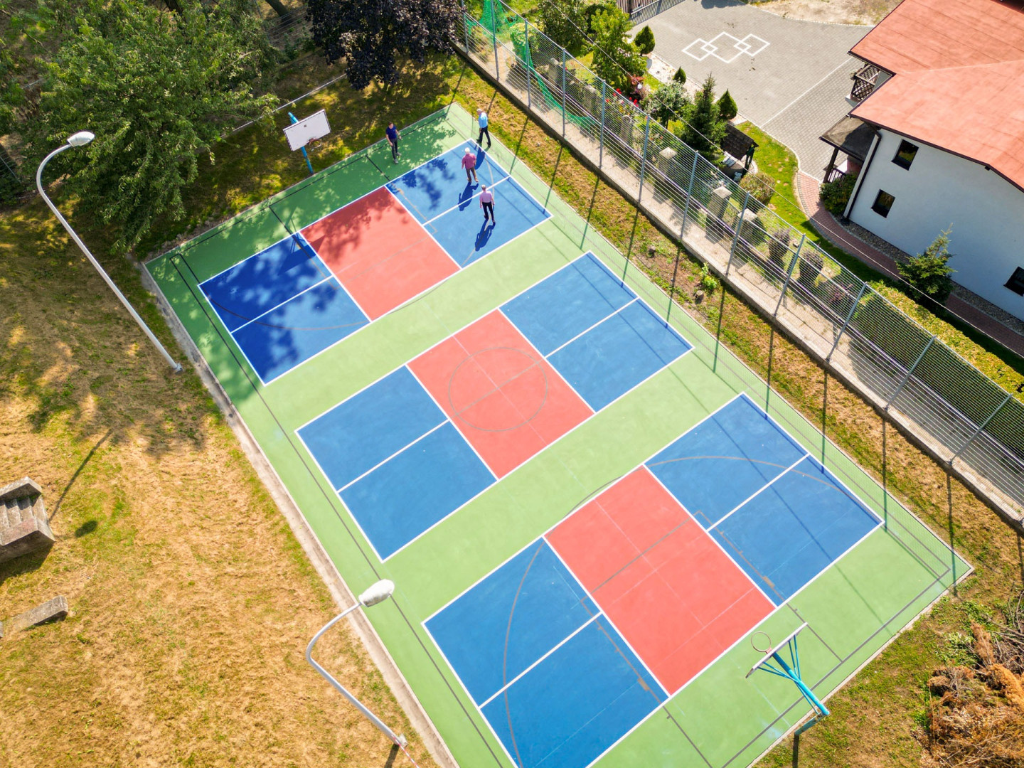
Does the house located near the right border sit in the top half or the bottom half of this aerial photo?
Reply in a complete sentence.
You can find the house located near the right border in the top half.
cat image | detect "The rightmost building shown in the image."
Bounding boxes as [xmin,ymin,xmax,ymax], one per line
[813,0,1024,324]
